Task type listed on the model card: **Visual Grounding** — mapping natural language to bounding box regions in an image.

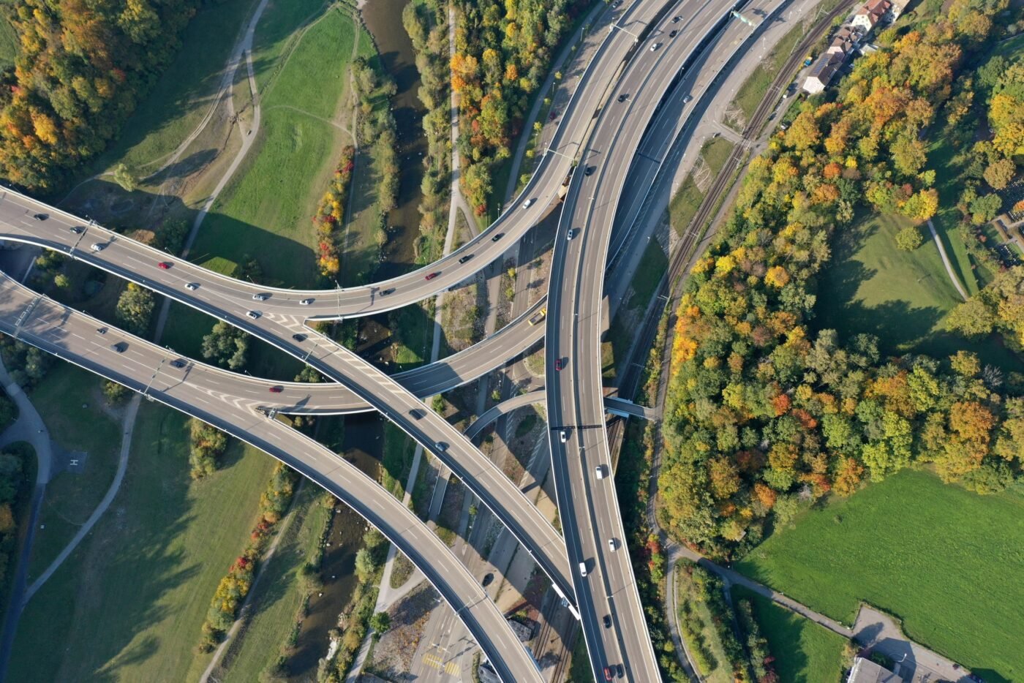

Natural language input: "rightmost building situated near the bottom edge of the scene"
[846,655,903,683]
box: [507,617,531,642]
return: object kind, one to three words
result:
shed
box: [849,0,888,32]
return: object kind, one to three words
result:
house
